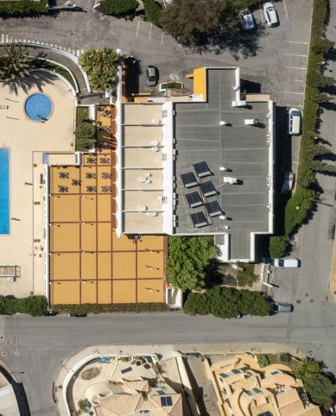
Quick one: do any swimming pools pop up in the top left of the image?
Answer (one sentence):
Yes, there is a swimming pool in the top left of the image.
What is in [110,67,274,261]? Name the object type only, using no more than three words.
building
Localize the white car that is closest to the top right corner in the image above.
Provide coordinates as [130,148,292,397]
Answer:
[261,2,278,27]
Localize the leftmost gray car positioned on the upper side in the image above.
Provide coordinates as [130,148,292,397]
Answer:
[145,64,157,88]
